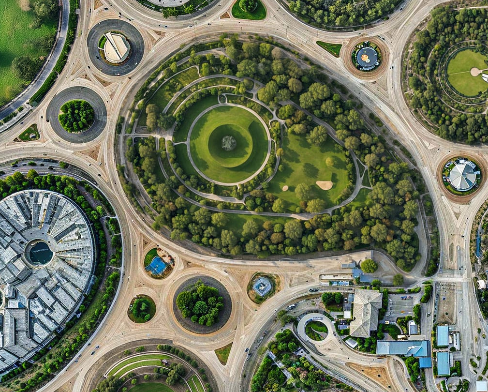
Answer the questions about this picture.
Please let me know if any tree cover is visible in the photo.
Yes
